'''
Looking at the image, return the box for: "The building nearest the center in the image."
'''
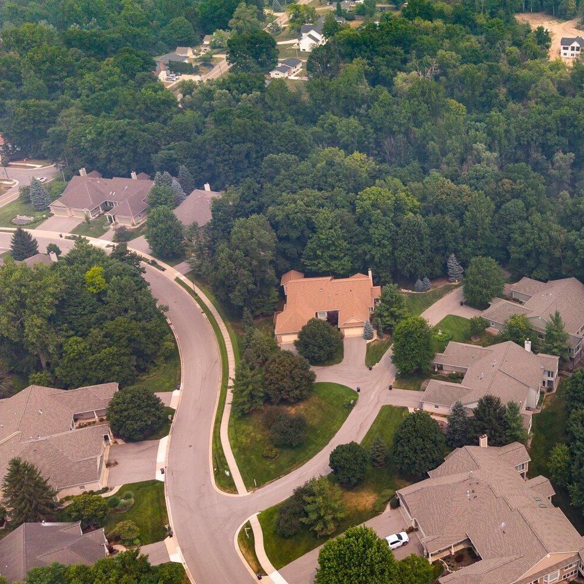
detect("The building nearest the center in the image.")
[273,267,380,343]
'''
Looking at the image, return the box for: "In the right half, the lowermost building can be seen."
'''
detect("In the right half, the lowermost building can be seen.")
[394,433,584,584]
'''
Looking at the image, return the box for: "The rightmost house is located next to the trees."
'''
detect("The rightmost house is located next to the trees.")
[560,37,584,63]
